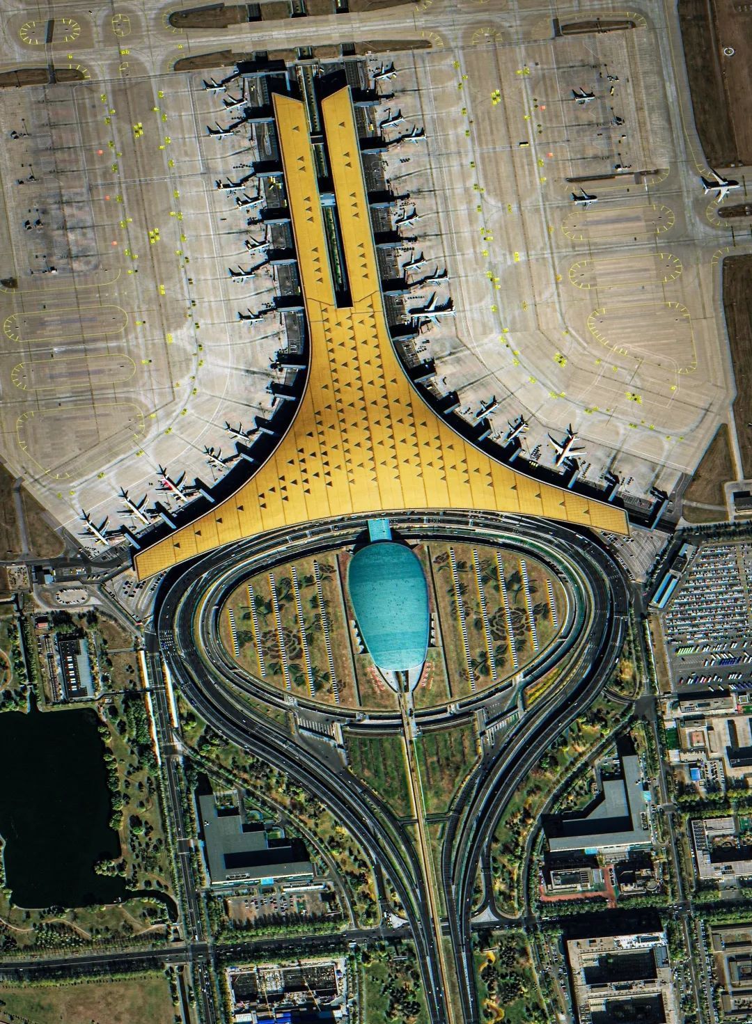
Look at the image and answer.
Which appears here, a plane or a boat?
plane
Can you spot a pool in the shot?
No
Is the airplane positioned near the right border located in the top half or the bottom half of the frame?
top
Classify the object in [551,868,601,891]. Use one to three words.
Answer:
building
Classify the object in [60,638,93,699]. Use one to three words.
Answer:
building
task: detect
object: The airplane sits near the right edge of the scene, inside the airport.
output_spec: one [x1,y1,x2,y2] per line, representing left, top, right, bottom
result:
[704,170,739,204]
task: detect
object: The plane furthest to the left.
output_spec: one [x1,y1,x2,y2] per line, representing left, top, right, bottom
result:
[78,515,109,546]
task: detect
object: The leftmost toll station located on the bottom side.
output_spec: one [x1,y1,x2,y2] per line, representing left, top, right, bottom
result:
[289,713,344,774]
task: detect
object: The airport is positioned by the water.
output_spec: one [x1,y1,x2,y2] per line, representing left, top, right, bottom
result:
[0,0,752,566]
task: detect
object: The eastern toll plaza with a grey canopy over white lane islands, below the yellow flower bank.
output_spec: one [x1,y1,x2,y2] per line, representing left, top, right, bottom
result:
[471,690,524,763]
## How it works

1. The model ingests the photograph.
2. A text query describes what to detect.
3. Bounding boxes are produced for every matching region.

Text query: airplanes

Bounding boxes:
[209,123,233,145]
[78,515,109,546]
[574,89,596,109]
[206,80,226,98]
[505,417,530,440]
[427,266,450,289]
[119,494,150,525]
[232,266,255,288]
[405,127,427,148]
[477,397,501,419]
[157,470,188,502]
[404,253,427,273]
[551,432,586,468]
[380,110,405,131]
[574,189,597,211]
[246,237,269,259]
[704,170,739,204]
[410,290,457,333]
[396,208,419,230]
[236,192,265,217]
[224,95,247,116]
[204,447,227,467]
[227,423,250,443]
[218,175,245,201]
